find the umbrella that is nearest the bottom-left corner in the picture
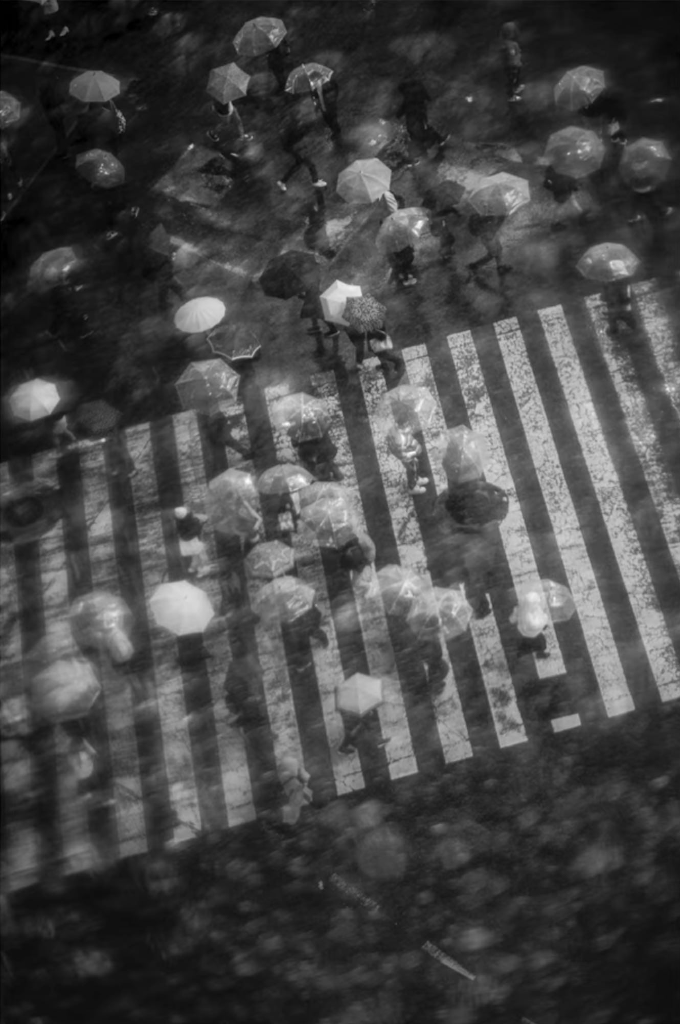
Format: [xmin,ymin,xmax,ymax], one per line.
[32,660,100,724]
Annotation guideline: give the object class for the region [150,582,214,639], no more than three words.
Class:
umbrella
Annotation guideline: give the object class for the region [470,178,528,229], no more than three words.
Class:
umbrella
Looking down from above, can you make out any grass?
No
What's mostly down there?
paved ground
